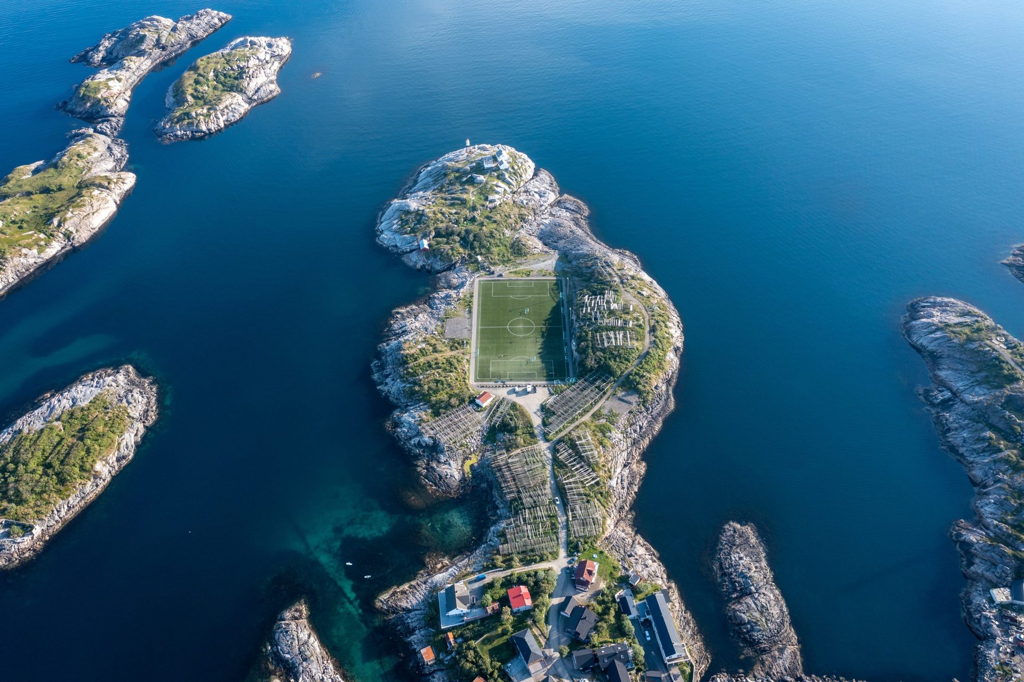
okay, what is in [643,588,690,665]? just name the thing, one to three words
building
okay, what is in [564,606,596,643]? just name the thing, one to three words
house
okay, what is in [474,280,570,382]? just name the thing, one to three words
soccer field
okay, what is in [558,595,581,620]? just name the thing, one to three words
building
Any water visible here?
Yes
